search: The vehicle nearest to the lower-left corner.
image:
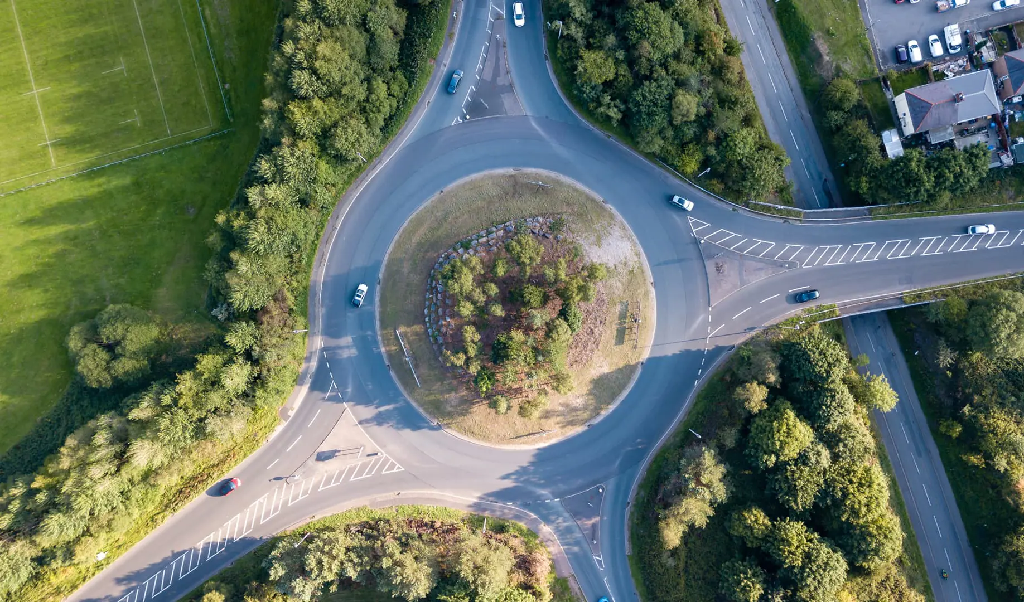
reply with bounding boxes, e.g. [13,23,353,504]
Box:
[218,475,241,497]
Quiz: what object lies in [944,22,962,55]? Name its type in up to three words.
vehicle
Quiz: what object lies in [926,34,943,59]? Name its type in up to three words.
car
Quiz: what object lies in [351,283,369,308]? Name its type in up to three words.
car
